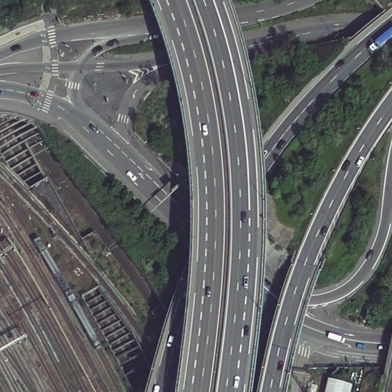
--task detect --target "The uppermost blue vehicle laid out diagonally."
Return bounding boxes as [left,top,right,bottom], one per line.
[371,25,392,48]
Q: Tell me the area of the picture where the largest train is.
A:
bottom left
